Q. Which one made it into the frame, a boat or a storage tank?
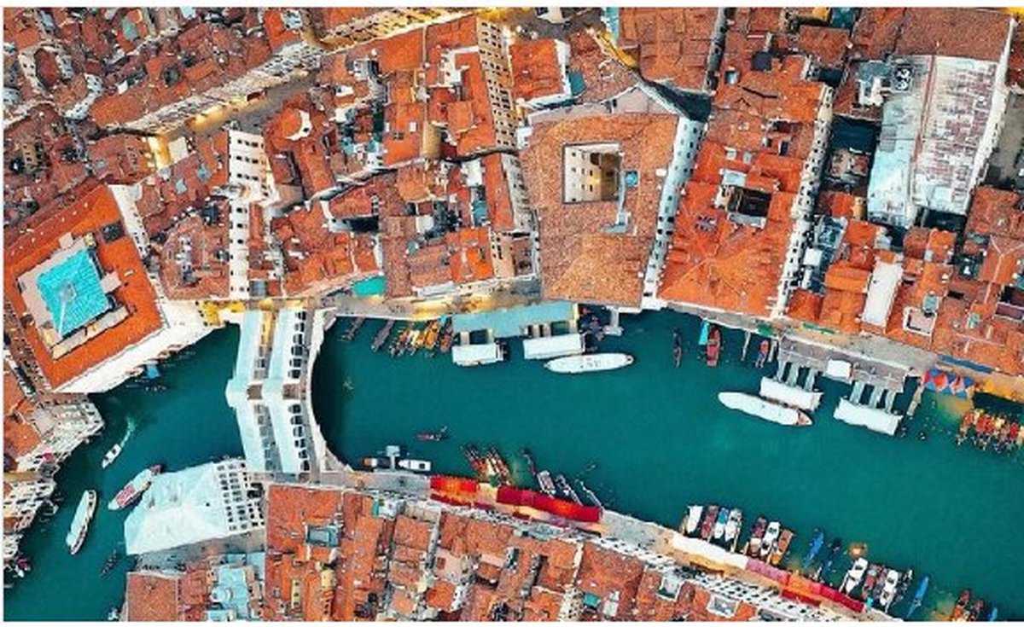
boat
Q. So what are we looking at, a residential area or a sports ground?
residential area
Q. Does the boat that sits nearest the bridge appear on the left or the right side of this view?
left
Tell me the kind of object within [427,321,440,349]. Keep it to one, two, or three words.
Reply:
boat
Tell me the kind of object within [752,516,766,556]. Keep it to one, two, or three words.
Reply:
boat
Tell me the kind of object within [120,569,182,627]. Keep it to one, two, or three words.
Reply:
house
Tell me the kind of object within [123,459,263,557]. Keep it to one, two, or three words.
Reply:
building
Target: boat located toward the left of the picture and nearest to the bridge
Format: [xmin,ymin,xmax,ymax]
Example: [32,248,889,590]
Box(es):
[341,317,365,340]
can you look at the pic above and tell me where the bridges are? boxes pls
[221,300,340,483]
